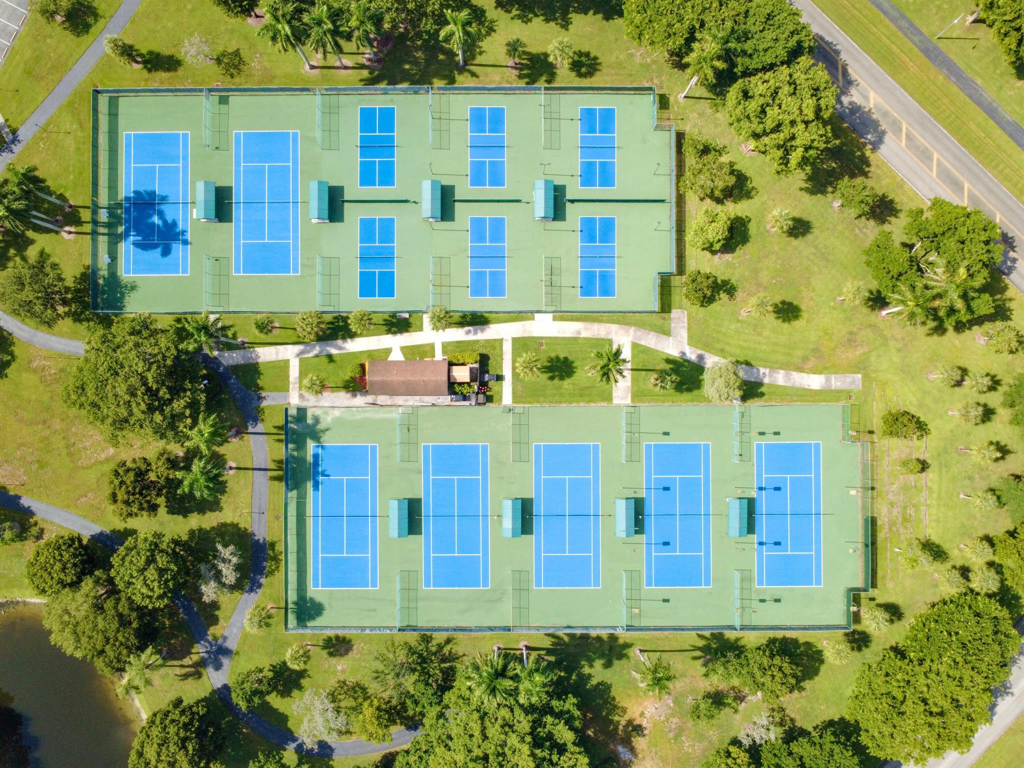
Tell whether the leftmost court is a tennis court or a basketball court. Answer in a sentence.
I'd identify the leftmost court as a tennis court.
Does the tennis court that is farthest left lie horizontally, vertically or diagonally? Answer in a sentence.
The tennis court that is farthest left has been laid out vertically relative to the frame.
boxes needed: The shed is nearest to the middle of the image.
[450,366,470,382]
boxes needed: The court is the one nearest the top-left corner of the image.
[123,132,189,275]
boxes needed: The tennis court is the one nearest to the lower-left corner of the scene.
[312,444,378,589]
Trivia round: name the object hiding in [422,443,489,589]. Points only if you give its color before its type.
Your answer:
blue tennis court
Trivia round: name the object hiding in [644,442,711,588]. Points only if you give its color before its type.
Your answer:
blue tennis court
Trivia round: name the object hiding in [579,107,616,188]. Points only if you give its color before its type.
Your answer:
blue sports court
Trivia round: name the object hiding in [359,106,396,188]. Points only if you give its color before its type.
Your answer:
blue sports court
